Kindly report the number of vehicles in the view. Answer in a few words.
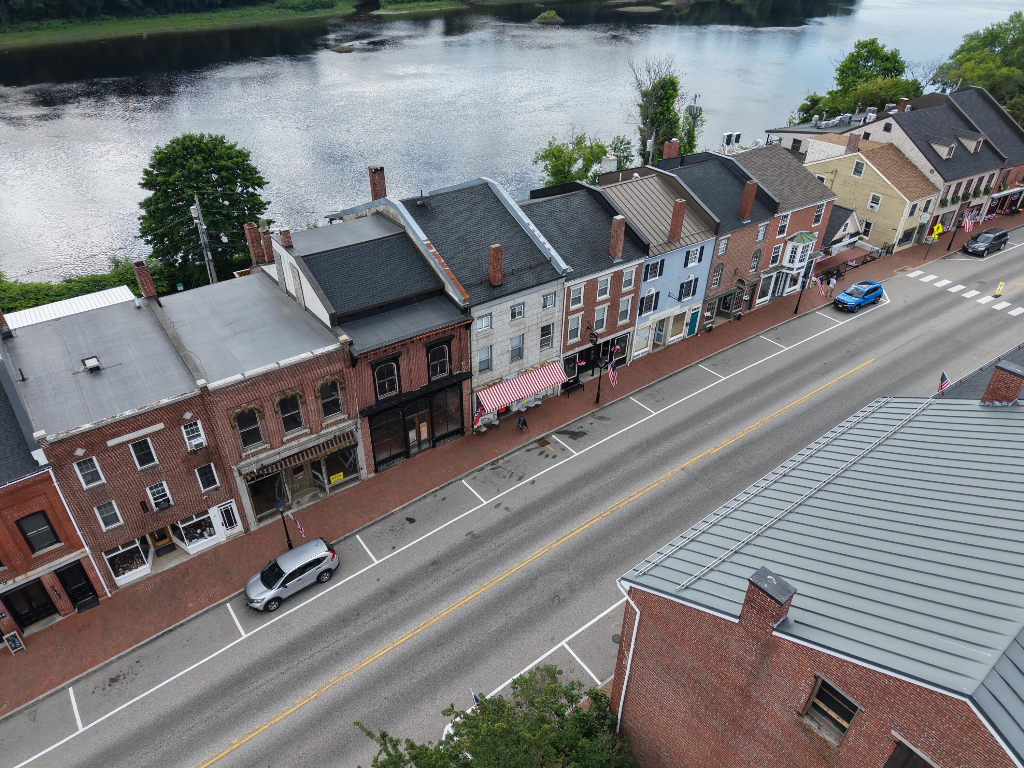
three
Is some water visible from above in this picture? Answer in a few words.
Yes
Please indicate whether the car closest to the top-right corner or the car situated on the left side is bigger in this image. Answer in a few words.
the car situated on the left side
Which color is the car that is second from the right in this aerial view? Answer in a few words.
blue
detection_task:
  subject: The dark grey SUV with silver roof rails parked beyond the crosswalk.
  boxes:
[963,226,1013,257]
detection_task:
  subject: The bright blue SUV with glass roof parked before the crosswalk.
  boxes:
[834,278,888,313]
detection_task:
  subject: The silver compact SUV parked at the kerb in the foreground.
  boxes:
[239,536,340,616]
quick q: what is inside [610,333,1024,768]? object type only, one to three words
warehouse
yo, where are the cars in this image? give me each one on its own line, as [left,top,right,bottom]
[239,536,340,616]
[834,278,888,313]
[963,226,1013,257]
